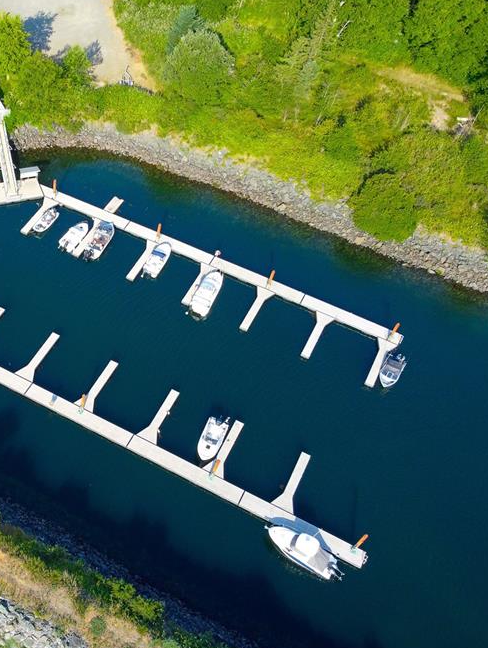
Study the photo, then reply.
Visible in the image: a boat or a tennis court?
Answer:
boat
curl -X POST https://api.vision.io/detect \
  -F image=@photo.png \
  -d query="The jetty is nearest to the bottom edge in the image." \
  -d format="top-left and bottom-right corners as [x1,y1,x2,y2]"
[0,308,366,571]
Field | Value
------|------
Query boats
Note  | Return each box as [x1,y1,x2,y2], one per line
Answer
[268,522,343,588]
[57,219,88,255]
[141,237,171,284]
[183,267,226,324]
[201,411,235,463]
[378,351,408,389]
[31,204,61,233]
[83,220,114,264]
